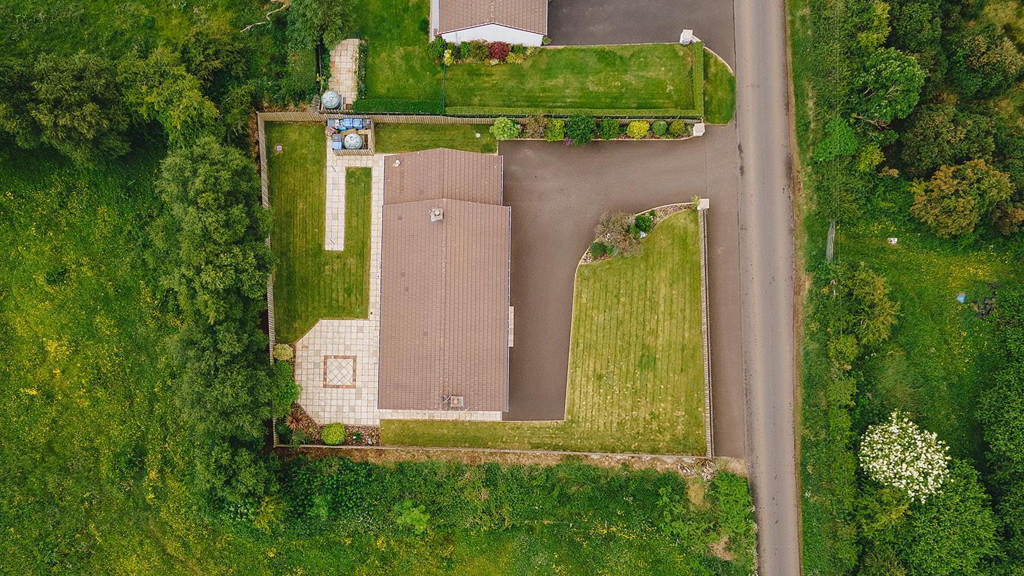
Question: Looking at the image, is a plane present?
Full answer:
No, I can see no plane in this picture.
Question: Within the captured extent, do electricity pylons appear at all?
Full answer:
No, no electricity pylon can be seen from above.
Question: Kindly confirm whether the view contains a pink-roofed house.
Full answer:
No, the photo shows no pink-roofed house.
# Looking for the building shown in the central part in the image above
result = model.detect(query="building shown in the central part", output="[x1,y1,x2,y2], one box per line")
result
[377,149,515,411]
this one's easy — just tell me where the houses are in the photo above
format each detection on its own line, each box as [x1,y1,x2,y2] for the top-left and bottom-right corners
[377,149,515,411]
[433,0,550,49]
